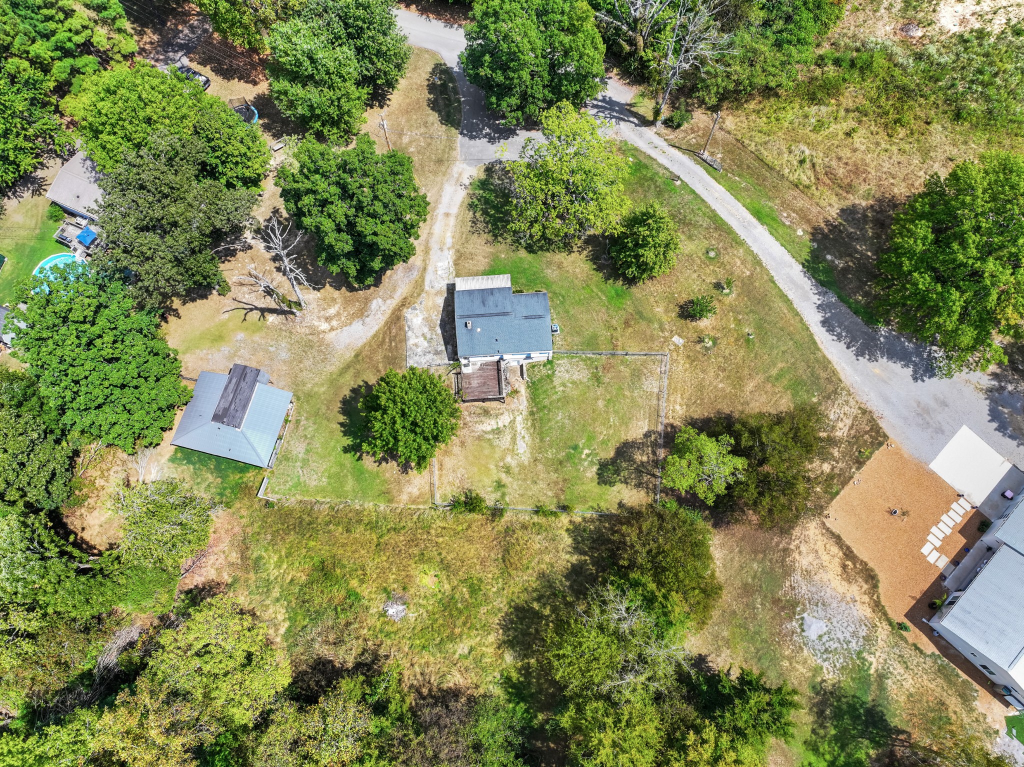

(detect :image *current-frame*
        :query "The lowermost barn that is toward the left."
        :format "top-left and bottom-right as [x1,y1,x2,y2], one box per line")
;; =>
[171,362,300,468]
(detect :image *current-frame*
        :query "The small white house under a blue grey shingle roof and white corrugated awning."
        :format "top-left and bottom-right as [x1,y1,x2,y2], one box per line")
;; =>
[454,273,553,362]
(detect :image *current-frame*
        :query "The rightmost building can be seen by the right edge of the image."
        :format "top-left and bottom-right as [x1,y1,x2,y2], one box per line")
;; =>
[920,489,1024,707]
